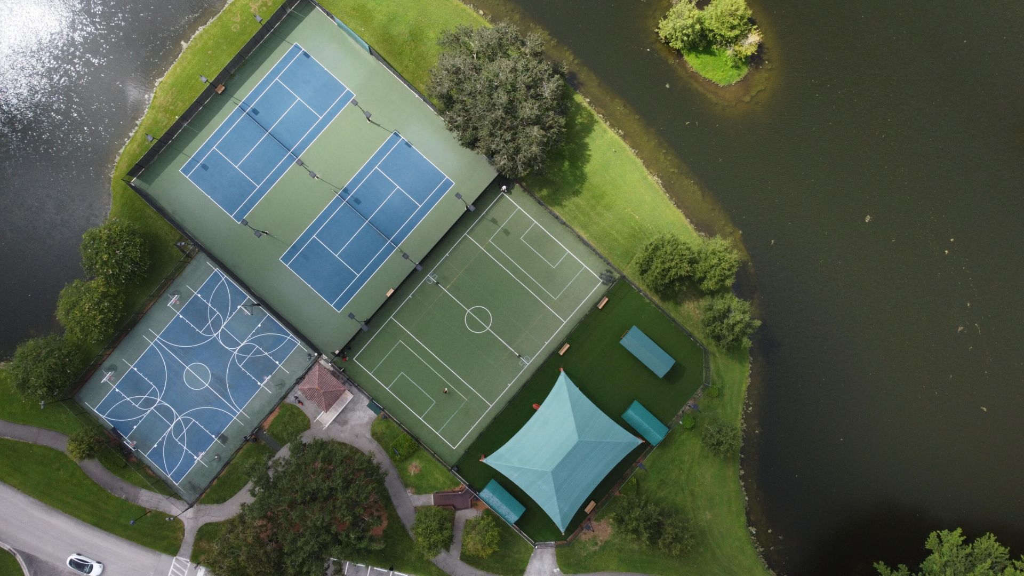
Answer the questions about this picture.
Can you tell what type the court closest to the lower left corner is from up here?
basketball court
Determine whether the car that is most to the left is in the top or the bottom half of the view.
bottom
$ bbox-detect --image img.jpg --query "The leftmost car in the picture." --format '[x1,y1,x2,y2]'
[67,554,102,576]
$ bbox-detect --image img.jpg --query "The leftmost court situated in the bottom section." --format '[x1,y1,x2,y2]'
[75,251,315,504]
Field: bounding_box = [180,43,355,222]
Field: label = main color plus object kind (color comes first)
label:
blue tennis court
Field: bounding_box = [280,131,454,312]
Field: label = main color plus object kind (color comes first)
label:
blue tennis court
